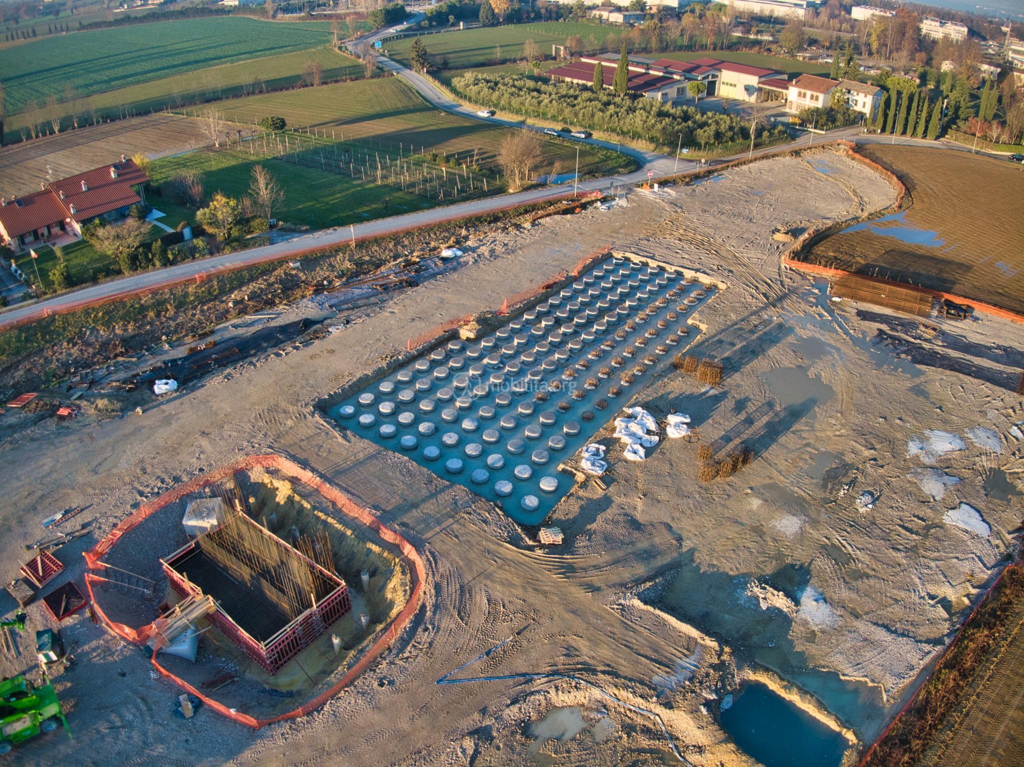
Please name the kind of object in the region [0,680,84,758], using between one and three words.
work vehicle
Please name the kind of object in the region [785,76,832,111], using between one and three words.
house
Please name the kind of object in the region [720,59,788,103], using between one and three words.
building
